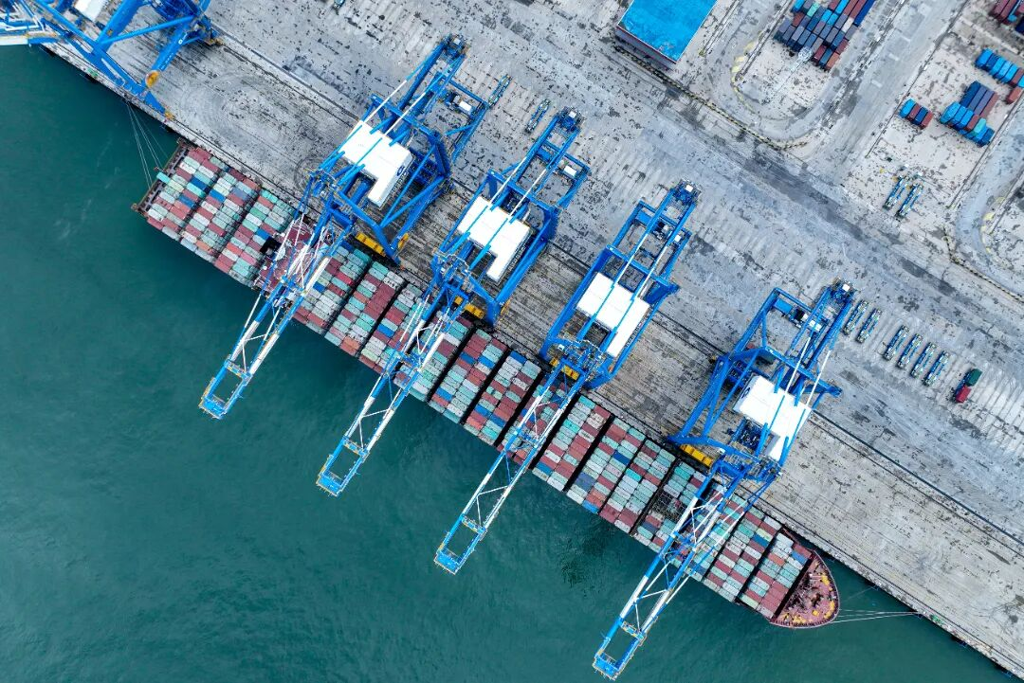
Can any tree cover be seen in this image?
No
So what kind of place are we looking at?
port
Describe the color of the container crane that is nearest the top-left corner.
blue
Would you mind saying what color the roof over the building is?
blue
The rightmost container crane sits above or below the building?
below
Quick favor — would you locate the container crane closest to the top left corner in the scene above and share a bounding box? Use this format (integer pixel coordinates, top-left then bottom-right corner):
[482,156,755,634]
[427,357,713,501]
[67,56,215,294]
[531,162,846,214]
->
[0,0,233,125]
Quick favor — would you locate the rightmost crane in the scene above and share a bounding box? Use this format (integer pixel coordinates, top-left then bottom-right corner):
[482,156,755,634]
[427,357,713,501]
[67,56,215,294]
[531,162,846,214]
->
[594,276,866,683]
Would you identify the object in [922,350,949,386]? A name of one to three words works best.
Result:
vehicle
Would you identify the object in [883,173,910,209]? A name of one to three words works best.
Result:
vehicle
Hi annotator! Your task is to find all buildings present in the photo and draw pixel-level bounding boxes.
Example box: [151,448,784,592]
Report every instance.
[615,0,718,71]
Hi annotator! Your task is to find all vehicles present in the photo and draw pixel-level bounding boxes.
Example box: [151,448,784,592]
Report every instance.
[525,99,551,134]
[897,182,923,217]
[951,367,975,403]
[922,350,949,386]
[895,333,923,369]
[908,342,936,378]
[854,307,881,343]
[882,325,909,361]
[487,72,512,107]
[841,299,868,335]
[883,173,910,209]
